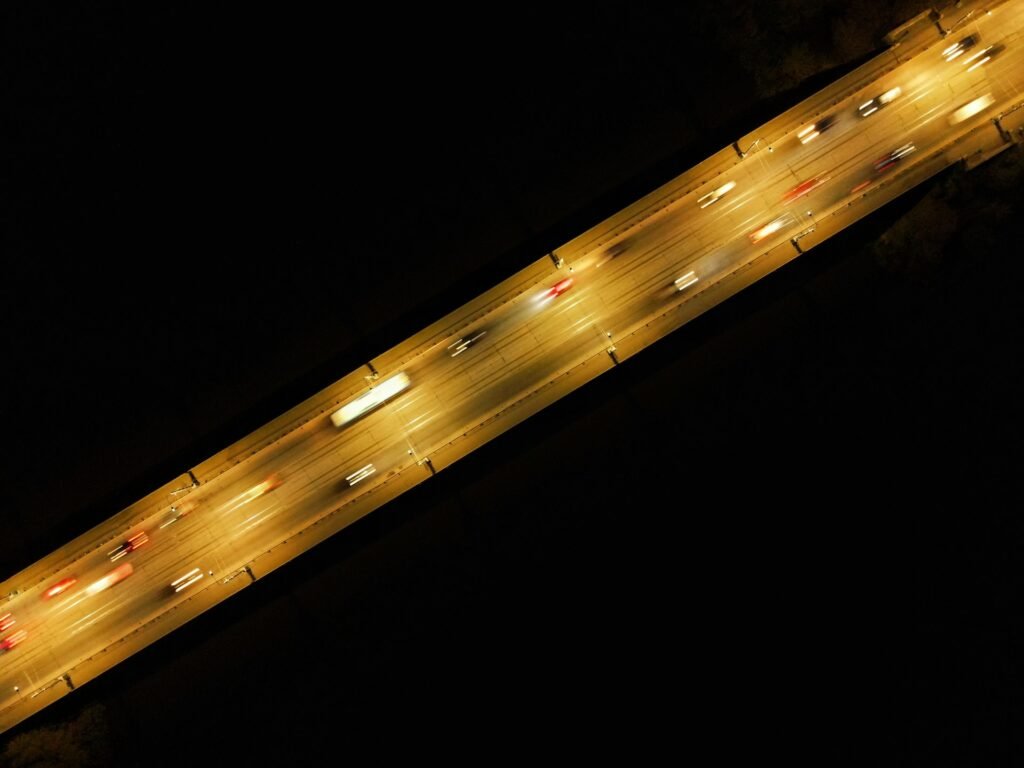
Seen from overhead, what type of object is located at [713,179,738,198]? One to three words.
car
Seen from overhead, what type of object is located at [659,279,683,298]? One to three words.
car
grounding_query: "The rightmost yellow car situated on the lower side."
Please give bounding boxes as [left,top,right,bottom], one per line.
[249,479,273,498]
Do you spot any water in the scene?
Yes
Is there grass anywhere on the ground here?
No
